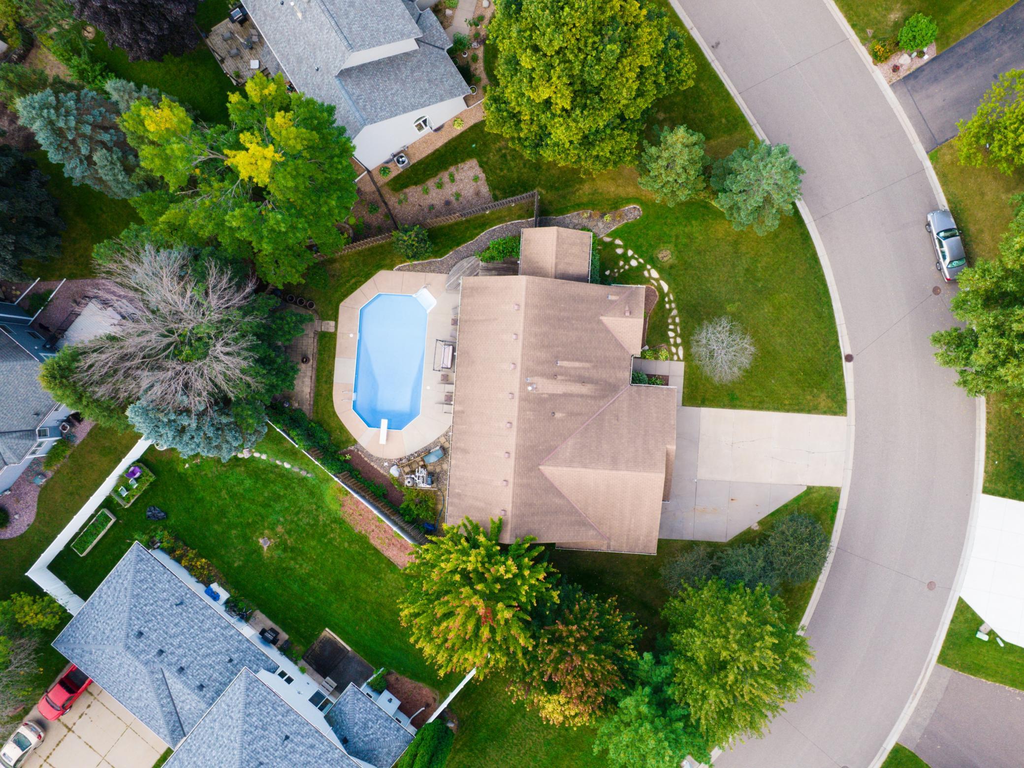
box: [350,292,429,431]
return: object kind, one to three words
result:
swimming pool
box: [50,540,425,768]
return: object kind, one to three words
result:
house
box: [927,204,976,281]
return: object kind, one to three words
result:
car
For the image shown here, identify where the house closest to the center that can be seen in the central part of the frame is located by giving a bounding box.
[442,226,678,556]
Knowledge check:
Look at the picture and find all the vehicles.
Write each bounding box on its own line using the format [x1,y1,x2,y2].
[37,664,93,726]
[927,204,976,281]
[0,715,49,768]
